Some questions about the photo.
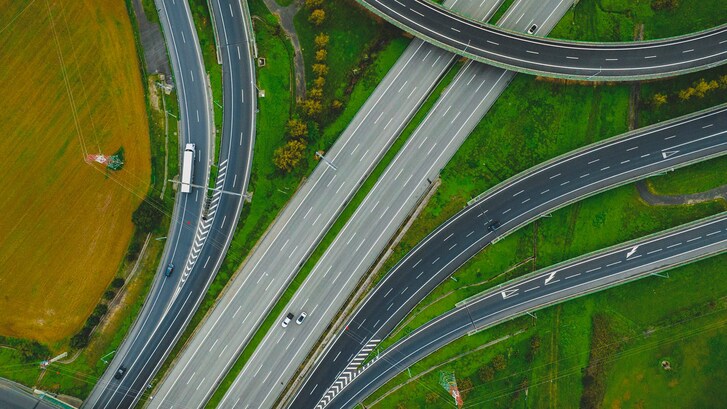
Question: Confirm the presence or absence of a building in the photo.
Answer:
No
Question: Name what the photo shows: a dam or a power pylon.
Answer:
power pylon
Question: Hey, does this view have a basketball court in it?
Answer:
No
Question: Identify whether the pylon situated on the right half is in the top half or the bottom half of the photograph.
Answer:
bottom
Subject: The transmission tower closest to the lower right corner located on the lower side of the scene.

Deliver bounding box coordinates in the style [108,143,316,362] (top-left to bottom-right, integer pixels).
[438,368,466,406]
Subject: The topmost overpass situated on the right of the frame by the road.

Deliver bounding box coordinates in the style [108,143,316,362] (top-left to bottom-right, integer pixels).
[349,0,727,82]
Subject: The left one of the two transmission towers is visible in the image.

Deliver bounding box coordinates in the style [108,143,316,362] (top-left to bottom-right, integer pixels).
[80,151,119,168]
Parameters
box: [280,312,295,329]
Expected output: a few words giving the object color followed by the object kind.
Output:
white vehicle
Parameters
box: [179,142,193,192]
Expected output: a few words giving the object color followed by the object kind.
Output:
white vehicle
